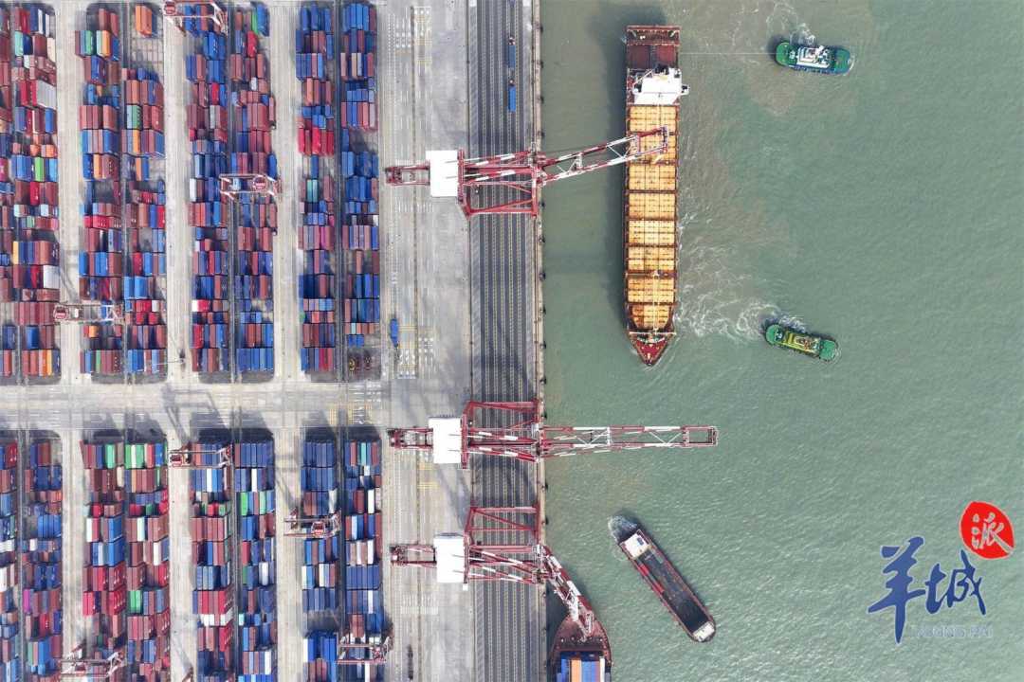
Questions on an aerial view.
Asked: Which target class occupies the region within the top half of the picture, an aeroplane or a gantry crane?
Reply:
gantry crane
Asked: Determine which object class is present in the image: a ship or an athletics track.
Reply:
ship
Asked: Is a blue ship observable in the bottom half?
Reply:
No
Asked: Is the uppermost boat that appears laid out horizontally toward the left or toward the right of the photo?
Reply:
right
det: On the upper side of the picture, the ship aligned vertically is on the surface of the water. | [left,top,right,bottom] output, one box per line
[621,25,687,366]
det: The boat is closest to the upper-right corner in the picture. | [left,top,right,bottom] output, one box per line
[774,40,852,77]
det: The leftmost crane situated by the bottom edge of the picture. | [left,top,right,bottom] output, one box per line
[51,630,132,676]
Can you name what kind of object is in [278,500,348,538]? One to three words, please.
crane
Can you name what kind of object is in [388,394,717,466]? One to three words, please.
container crane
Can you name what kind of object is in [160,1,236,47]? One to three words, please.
crane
